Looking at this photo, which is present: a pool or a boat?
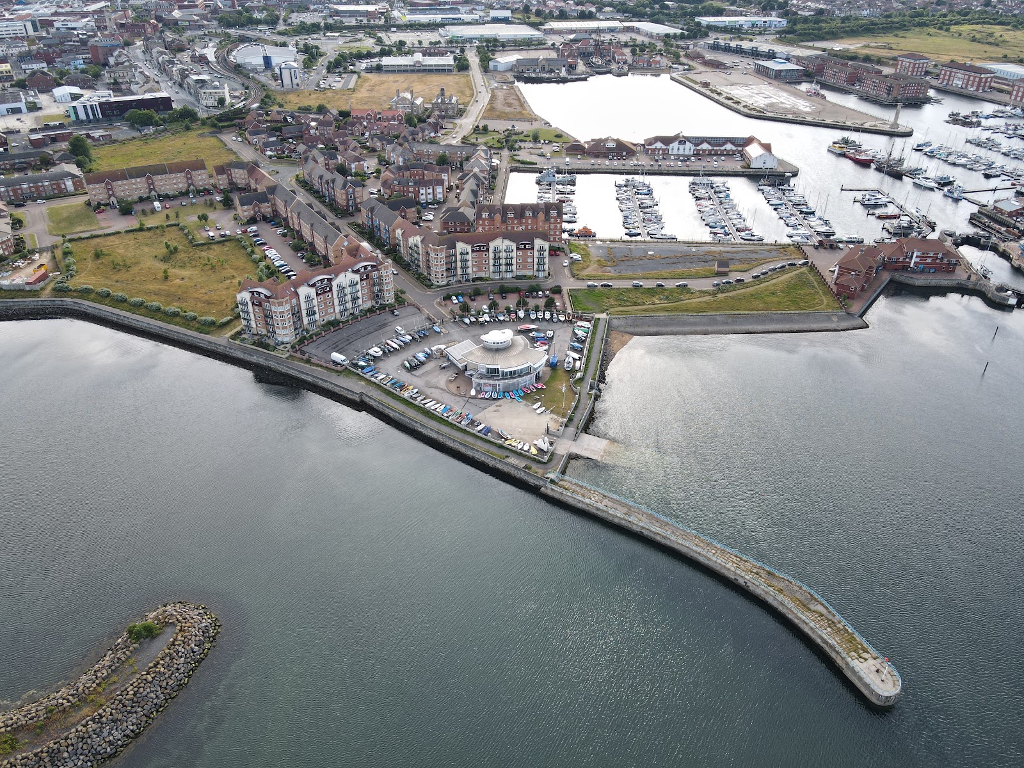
boat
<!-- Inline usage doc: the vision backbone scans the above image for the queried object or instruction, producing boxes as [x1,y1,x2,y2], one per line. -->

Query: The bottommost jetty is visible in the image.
[540,475,900,709]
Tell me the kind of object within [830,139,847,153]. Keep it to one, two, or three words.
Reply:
boat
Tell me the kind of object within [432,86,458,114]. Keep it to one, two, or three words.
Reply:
house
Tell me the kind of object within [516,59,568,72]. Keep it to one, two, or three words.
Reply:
building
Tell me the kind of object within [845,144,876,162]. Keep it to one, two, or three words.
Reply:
boat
